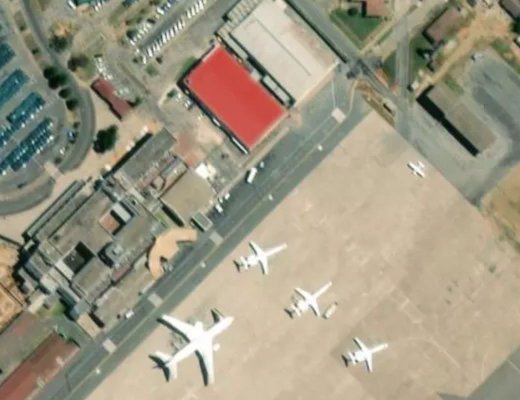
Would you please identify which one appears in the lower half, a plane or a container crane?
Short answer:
plane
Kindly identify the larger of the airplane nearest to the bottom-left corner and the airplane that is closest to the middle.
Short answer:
the airplane nearest to the bottom-left corner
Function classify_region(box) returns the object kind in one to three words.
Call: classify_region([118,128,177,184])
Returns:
building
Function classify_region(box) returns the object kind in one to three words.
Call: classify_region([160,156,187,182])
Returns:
house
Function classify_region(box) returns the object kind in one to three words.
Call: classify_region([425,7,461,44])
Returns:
house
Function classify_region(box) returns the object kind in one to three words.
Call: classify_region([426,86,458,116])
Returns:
hangar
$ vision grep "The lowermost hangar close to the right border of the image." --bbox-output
[443,102,497,152]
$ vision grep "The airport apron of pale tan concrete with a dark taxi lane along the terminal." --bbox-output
[27,96,520,400]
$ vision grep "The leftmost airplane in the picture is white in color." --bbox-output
[157,315,234,383]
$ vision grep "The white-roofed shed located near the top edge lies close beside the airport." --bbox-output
[232,0,342,103]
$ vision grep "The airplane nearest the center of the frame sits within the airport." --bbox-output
[242,241,287,274]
